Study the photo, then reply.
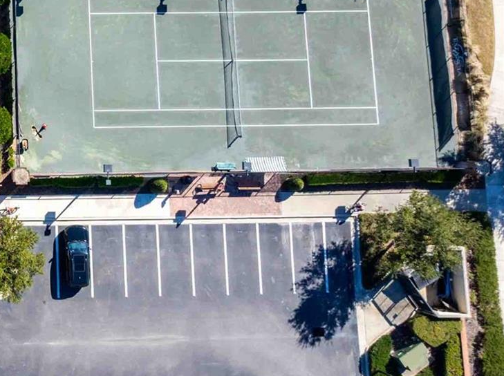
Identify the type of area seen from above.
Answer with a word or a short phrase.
sports ground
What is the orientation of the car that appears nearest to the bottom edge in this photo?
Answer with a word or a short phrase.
vertically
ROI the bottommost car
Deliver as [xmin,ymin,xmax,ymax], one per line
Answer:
[60,226,90,287]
